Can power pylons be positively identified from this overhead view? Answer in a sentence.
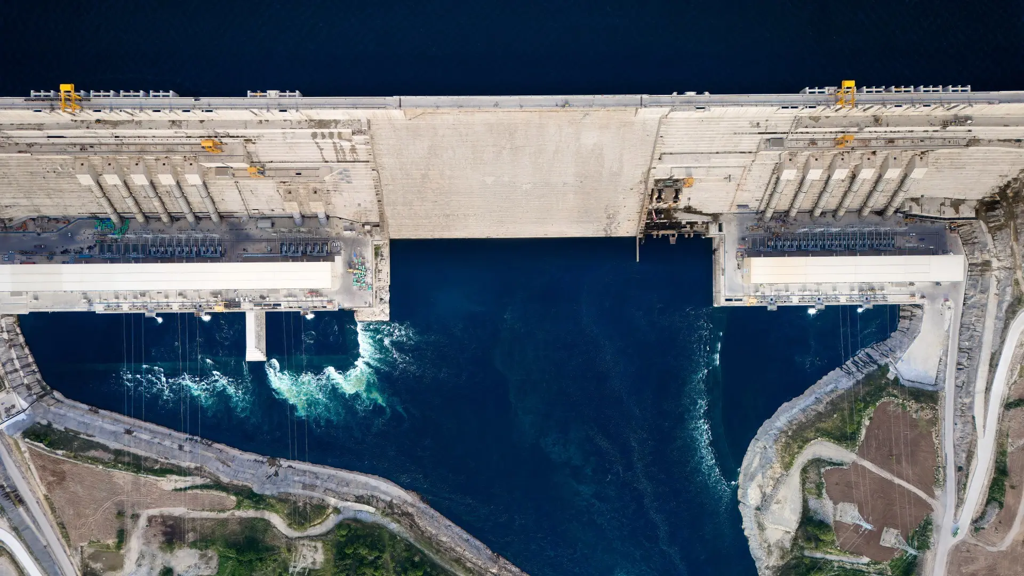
Yes, there's a power pylon here.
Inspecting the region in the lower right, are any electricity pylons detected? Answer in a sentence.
Yes, an electricity pylon shows up in the lower right.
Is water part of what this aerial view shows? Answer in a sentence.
Yes, water can be seen from above here.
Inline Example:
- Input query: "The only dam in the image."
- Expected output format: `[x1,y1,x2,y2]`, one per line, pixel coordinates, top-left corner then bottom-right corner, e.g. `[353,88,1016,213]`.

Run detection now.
[0,91,1024,238]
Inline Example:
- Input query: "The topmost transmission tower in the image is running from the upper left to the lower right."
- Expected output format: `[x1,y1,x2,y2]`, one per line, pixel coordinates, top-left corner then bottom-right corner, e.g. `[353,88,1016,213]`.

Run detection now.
[836,503,876,532]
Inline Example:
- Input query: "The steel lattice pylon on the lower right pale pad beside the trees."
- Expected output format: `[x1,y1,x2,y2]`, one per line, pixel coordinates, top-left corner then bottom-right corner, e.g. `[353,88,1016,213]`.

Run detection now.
[881,527,923,558]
